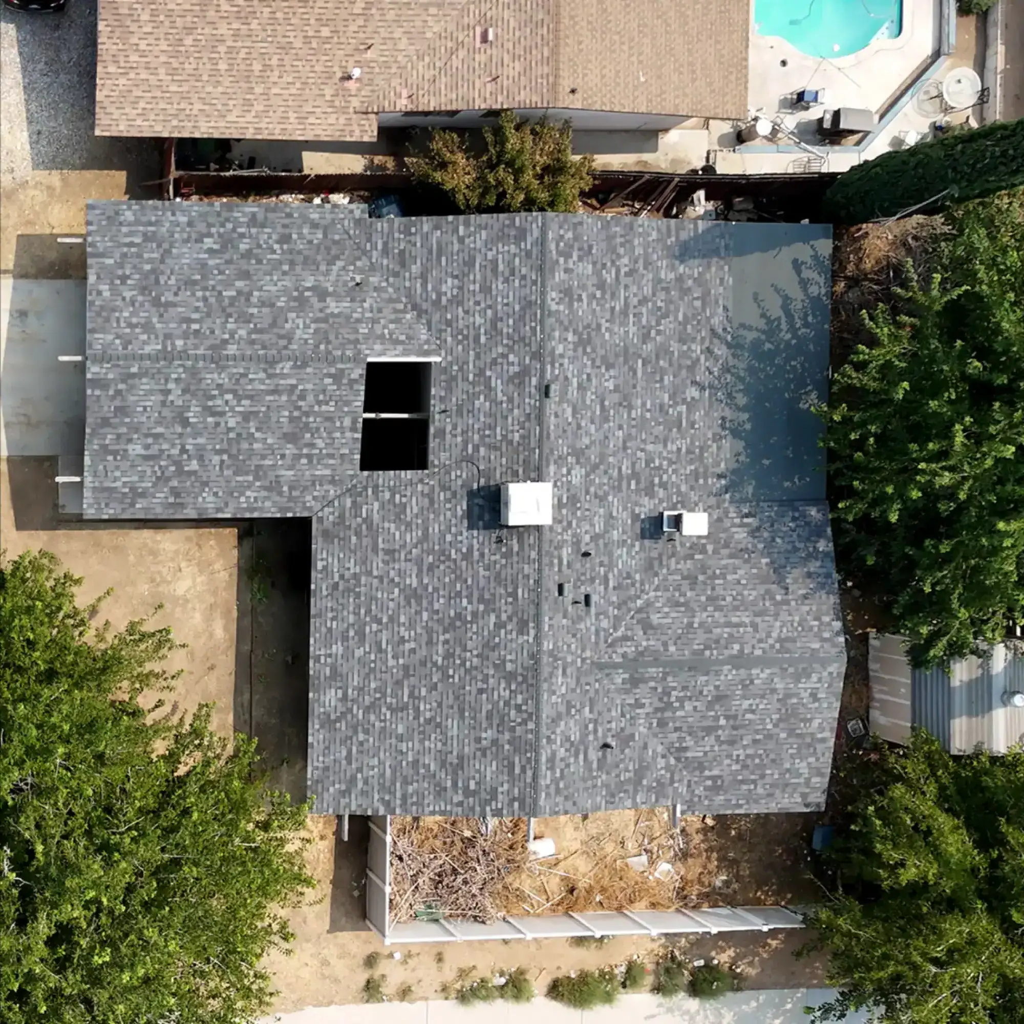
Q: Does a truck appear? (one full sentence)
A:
No, there isn't any truck down there.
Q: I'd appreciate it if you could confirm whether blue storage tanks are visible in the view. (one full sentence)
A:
No, there appears to be no blue storage tank in this shot.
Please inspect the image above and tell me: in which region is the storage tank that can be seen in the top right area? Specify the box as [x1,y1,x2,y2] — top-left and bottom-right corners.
[735,111,771,145]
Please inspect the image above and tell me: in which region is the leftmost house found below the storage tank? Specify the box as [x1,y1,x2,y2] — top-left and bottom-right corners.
[57,201,848,845]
